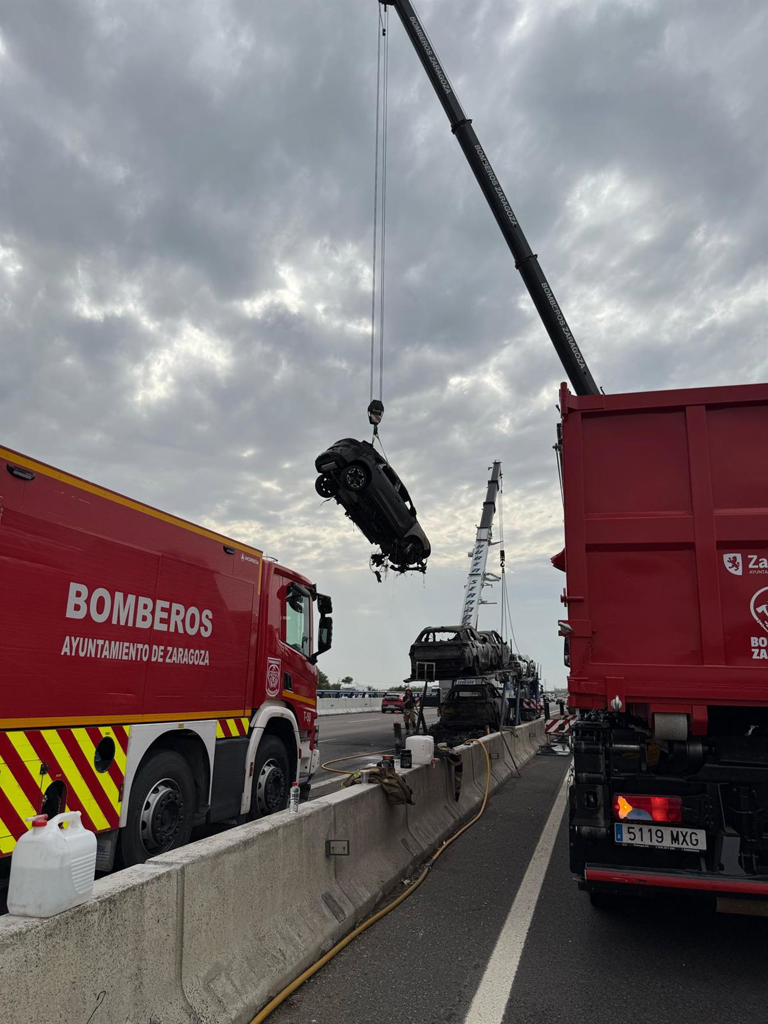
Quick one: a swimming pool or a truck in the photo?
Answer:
truck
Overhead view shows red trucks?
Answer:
Yes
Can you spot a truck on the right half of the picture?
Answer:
Yes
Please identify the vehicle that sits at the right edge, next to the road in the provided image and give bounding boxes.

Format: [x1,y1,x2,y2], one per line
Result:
[555,379,768,909]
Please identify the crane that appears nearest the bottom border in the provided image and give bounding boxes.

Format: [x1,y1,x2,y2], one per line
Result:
[414,451,539,722]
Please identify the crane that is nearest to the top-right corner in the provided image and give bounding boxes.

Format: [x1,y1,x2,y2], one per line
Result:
[365,0,600,469]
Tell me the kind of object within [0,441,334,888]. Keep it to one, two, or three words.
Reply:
truck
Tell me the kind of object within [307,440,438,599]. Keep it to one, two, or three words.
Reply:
car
